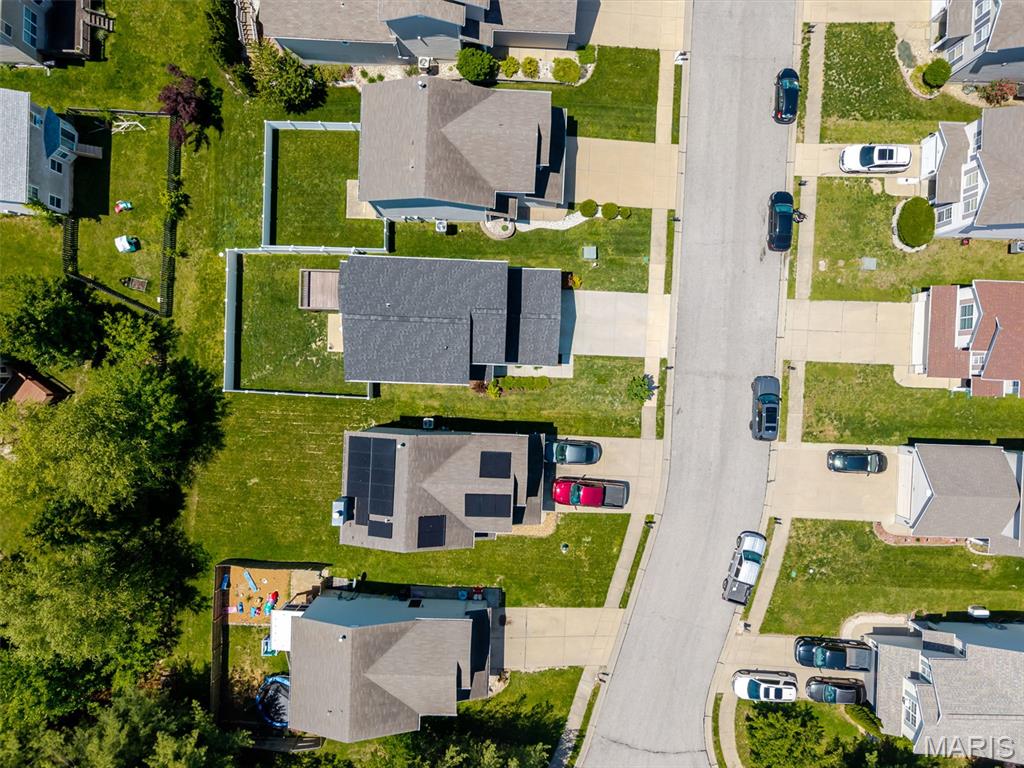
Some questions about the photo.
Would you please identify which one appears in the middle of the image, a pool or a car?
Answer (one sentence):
Looking in the middle of the image, you will find a car.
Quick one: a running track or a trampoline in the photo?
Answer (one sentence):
The image shows a trampoline.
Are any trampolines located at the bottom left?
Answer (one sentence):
Yes, looking at the bottom left, one can make out a trampoline.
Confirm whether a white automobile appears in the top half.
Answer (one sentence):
Yes, looking in the top half, one can make out a white automobile.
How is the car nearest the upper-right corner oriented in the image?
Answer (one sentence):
Seen from above, the car nearest the upper-right corner lies horizontally.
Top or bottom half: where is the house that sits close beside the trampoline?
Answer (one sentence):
Seen from above, the house that sits close beside the trampoline lies in the bottom half of the view.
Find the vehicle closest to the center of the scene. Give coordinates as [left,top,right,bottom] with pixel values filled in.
[545,438,602,466]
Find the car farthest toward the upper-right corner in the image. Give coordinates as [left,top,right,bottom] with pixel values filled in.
[838,142,911,175]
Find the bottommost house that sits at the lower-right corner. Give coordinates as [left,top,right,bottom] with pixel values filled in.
[863,619,1024,761]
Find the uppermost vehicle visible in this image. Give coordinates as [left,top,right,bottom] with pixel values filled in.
[771,69,802,127]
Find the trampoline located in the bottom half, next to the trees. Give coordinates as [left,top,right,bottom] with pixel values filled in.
[251,674,294,735]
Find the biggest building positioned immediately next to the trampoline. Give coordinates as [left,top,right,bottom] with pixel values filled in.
[288,599,492,745]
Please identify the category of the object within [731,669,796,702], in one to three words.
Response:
car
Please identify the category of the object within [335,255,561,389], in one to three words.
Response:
house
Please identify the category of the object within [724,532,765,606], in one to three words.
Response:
truck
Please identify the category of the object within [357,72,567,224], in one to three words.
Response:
house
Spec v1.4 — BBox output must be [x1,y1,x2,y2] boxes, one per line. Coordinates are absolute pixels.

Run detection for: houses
[256,0,578,70]
[894,443,1024,563]
[335,255,561,389]
[863,619,1024,761]
[0,87,83,218]
[918,105,1024,245]
[331,426,546,554]
[911,280,1024,399]
[928,0,1024,87]
[0,0,45,78]
[357,72,567,224]
[288,599,492,745]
